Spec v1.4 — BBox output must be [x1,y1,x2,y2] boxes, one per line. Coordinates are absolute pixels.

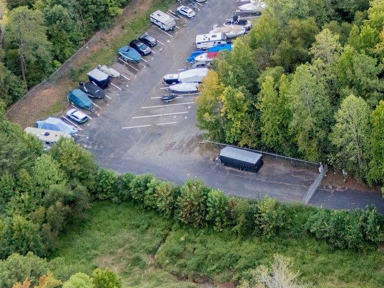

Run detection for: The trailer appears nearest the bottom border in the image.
[215,141,265,171]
